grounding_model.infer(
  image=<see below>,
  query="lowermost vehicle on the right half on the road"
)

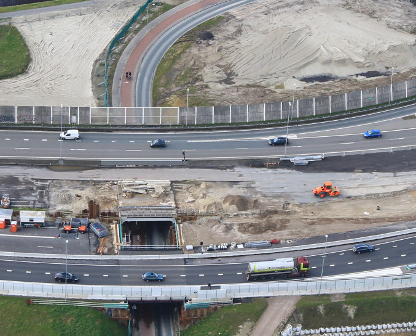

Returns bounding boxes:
[247,257,311,282]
